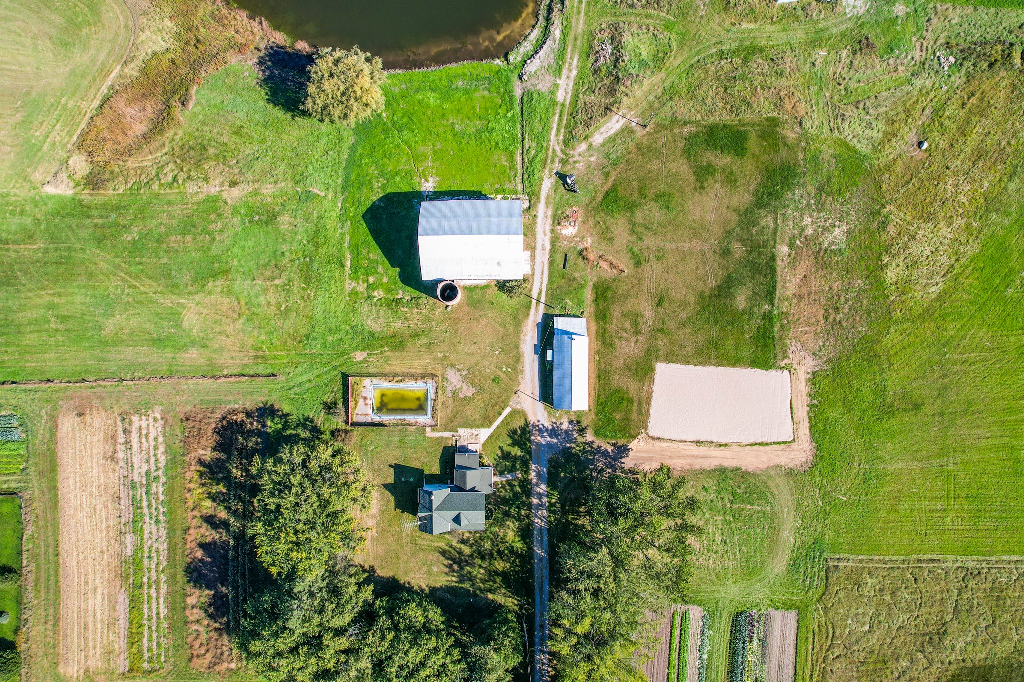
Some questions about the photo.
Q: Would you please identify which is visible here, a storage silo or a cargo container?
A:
storage silo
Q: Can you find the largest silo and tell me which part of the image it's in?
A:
center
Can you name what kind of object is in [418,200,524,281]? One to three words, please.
barn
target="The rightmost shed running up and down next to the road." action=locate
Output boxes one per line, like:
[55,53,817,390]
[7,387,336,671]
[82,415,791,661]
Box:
[547,318,588,411]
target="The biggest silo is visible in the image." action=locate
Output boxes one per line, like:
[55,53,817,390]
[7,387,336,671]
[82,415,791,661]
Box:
[436,280,464,306]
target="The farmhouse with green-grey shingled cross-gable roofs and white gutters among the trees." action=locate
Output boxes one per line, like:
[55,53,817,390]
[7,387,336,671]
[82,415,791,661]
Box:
[417,452,494,535]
